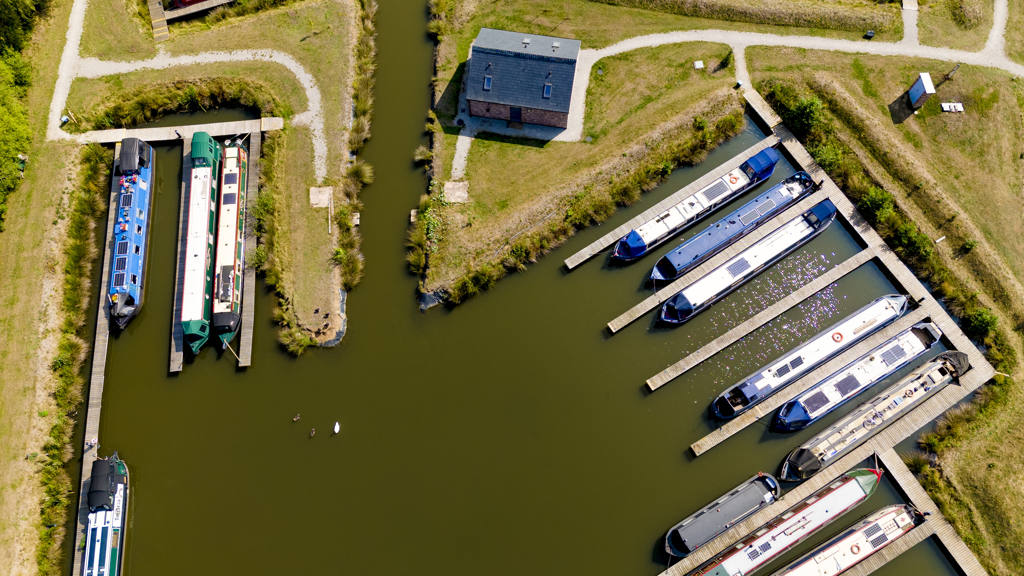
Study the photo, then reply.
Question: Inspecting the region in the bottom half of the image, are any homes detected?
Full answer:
No, I see no home in the bottom half of the image.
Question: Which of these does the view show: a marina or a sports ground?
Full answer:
It's a marina.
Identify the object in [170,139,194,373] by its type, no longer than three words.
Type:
pier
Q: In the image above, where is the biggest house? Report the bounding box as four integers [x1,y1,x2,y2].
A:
[466,27,580,129]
